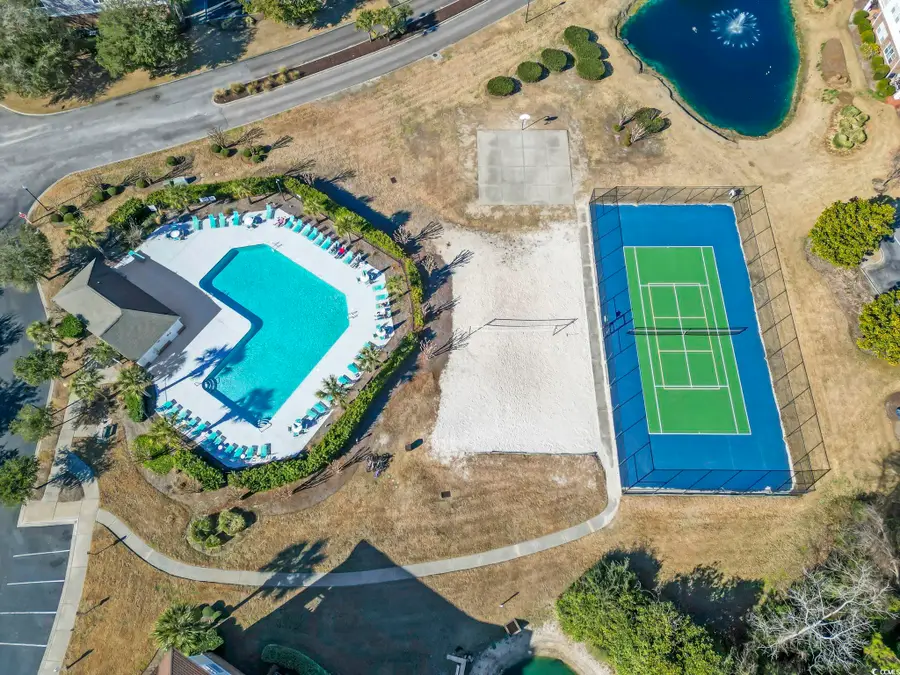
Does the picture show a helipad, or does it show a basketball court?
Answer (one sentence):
This aerial view contains a basketball court.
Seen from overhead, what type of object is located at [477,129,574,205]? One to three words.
basketball court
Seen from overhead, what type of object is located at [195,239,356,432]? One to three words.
swimming pool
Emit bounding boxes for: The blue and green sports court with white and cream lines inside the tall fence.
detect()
[587,201,795,495]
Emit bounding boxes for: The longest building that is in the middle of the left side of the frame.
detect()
[53,258,187,367]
